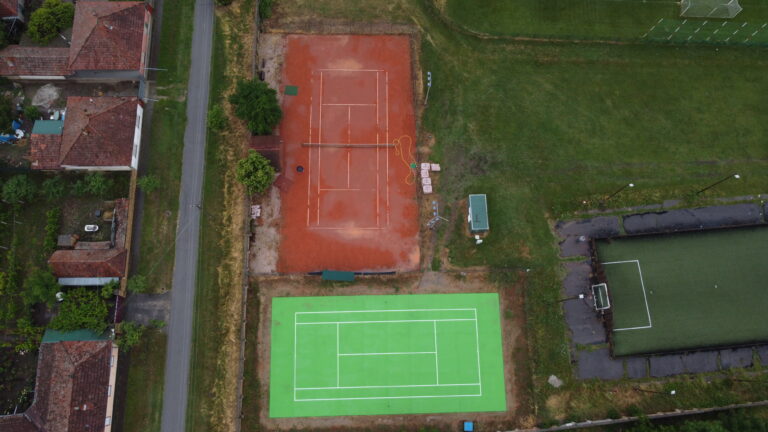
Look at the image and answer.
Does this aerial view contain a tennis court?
Yes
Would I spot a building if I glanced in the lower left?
Yes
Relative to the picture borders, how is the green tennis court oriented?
from side to side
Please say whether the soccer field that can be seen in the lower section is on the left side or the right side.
right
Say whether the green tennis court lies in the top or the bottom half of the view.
bottom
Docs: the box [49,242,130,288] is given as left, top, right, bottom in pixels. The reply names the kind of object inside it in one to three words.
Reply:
house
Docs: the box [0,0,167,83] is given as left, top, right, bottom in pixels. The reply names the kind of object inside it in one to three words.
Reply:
house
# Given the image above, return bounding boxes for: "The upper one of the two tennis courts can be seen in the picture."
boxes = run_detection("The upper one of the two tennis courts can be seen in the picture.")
[277,33,418,274]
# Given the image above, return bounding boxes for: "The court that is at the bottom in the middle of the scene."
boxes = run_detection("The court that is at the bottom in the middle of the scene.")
[269,292,506,418]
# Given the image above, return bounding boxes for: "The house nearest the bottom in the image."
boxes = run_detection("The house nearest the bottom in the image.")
[0,328,118,432]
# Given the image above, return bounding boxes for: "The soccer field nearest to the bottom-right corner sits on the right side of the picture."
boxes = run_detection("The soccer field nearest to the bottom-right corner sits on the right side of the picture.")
[591,224,768,356]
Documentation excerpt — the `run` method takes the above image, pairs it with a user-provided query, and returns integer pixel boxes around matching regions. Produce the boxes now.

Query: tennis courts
[269,292,506,418]
[277,33,418,274]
